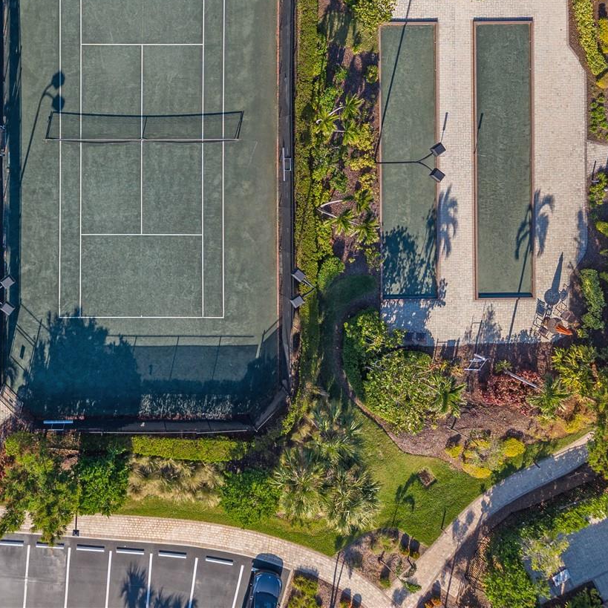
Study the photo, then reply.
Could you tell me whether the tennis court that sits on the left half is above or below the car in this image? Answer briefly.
above it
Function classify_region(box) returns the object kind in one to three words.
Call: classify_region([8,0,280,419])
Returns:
tennis court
